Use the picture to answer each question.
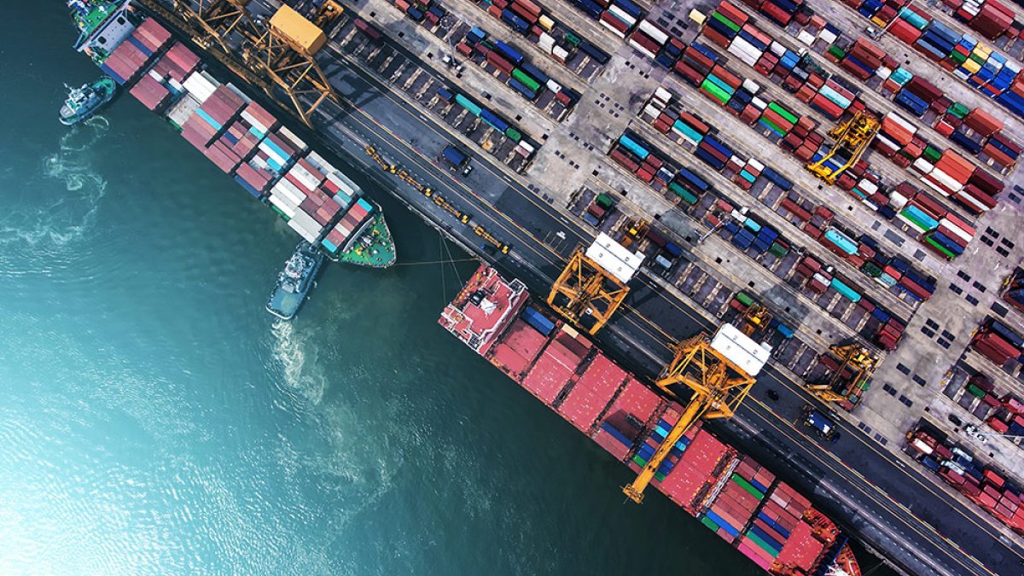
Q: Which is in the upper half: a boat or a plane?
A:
boat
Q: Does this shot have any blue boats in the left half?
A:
Yes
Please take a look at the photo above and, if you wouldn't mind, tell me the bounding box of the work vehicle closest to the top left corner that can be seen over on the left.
[361,145,399,175]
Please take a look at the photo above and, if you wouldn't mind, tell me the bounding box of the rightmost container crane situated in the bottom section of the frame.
[804,343,879,403]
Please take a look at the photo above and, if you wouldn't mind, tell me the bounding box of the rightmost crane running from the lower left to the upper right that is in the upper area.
[805,112,879,185]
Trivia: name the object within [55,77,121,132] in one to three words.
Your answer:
boat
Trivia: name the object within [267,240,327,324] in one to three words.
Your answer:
boat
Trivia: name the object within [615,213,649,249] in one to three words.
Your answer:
container crane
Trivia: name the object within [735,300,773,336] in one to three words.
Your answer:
container crane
